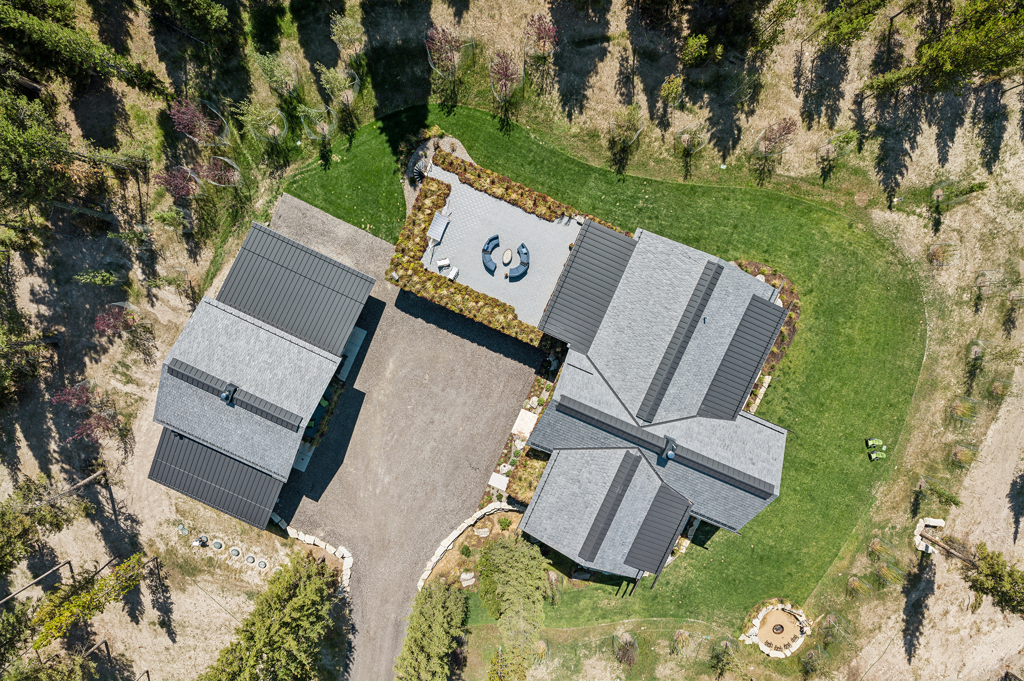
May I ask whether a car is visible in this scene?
No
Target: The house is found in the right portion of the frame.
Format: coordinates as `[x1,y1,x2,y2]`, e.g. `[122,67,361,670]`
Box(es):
[514,219,795,596]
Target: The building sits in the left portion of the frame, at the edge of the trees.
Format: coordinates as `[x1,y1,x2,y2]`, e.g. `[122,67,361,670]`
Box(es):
[147,220,376,532]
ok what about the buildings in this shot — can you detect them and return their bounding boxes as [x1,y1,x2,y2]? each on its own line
[514,219,795,596]
[147,220,376,532]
